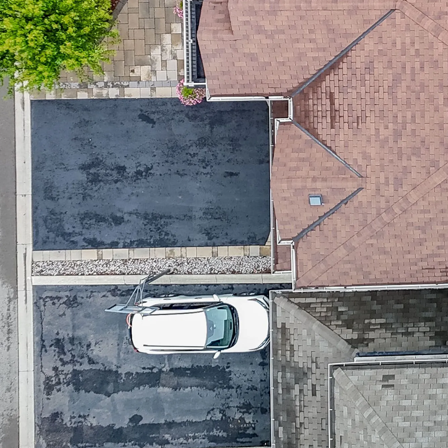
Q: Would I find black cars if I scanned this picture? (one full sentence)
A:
No, I can see no black car in this picture.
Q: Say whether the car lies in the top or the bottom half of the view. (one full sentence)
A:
You can find the car in the bottom half.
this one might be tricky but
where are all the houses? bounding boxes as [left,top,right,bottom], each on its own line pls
[181,0,448,289]
[252,290,448,448]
